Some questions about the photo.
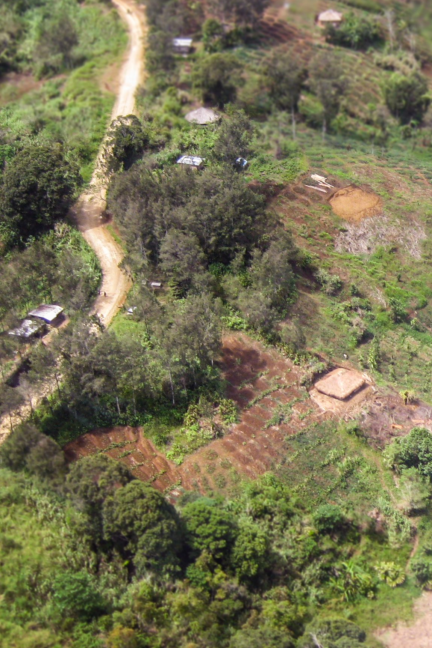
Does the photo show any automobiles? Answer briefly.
No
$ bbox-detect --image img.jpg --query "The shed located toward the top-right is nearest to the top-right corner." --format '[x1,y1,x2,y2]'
[317,6,341,23]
